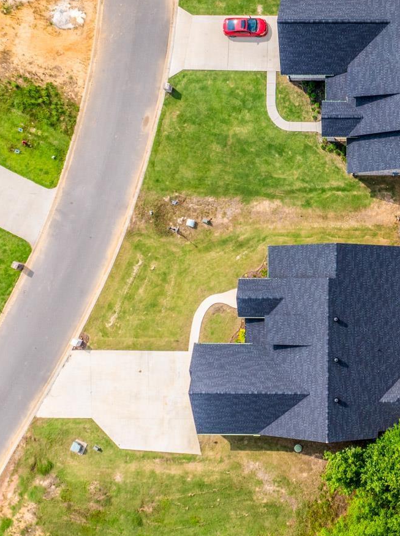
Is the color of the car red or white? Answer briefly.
red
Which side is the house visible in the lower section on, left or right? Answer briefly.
right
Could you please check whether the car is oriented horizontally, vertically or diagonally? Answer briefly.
horizontally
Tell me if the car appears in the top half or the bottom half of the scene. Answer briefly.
top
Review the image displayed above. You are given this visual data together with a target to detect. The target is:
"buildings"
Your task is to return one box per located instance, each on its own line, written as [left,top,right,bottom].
[278,0,400,177]
[189,242,400,443]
